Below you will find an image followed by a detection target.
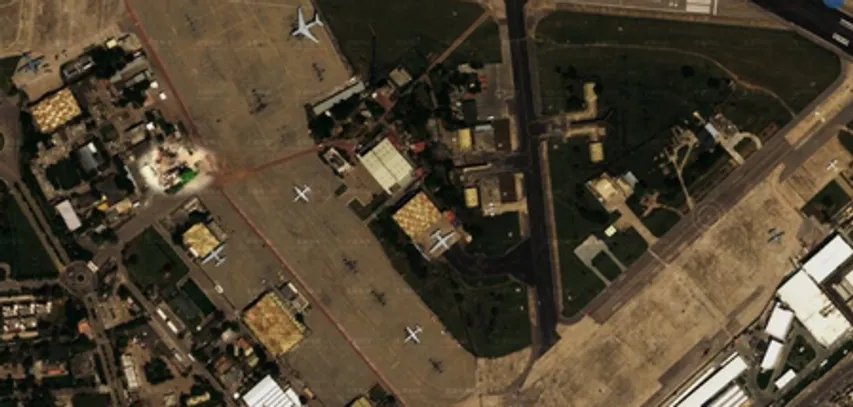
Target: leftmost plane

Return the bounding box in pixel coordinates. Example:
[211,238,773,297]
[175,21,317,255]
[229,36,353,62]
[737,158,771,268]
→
[17,51,44,73]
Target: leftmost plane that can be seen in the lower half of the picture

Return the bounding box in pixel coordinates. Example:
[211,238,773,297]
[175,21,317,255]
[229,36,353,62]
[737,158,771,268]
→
[202,245,227,268]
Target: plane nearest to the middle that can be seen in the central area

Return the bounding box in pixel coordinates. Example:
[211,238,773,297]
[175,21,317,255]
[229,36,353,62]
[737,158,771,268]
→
[428,228,457,252]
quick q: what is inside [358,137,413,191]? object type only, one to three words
hangar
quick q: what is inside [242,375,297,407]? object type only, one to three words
building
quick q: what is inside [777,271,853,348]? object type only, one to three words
building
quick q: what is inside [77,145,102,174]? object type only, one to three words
shed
